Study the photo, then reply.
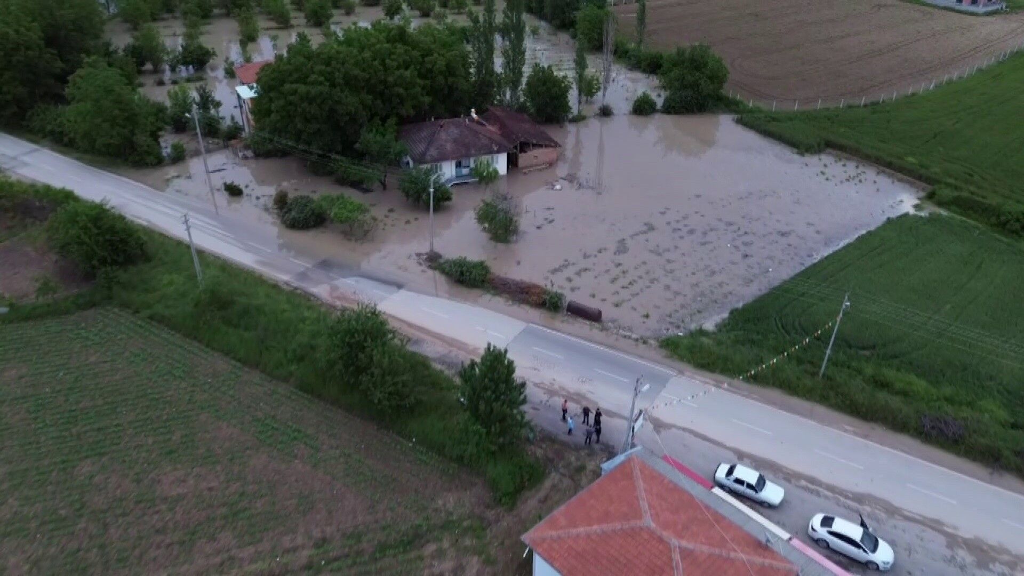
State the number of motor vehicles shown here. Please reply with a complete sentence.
The count of motor vehicles comes to 2.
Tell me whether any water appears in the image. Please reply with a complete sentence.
Yes, the picture does contain water.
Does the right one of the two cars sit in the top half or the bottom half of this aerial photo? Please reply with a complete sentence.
The right one of the two cars sits in the bottom half of the picture.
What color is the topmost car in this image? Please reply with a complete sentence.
The color of the topmost car is white.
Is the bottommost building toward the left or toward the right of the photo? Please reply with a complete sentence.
The bottommost building appears in the right half of the scene.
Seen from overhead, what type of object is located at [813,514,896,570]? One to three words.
car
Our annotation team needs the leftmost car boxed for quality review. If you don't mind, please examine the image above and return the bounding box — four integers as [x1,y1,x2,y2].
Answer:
[716,465,786,509]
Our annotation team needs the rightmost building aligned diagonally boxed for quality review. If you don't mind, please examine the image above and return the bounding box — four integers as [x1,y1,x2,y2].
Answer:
[468,106,562,171]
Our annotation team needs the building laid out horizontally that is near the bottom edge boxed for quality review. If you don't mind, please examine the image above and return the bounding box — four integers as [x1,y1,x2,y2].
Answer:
[508,442,827,576]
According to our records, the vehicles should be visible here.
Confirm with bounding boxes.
[716,465,786,509]
[813,514,896,570]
